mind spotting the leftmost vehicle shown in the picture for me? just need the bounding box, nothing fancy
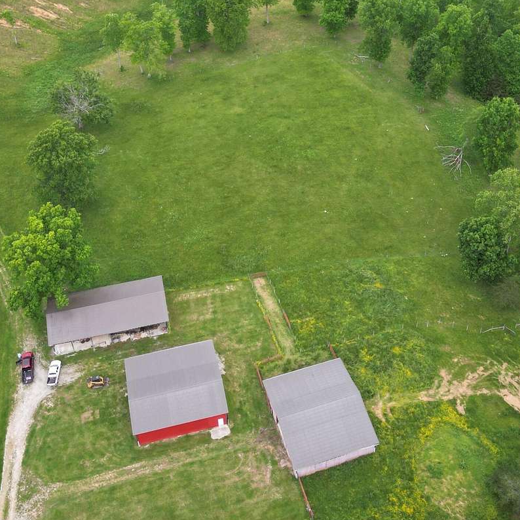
[14,351,37,388]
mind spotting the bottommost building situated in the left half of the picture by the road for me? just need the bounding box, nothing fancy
[124,337,229,443]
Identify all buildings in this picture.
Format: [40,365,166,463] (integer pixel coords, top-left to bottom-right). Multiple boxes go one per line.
[45,273,169,356]
[261,357,380,477]
[124,337,229,443]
